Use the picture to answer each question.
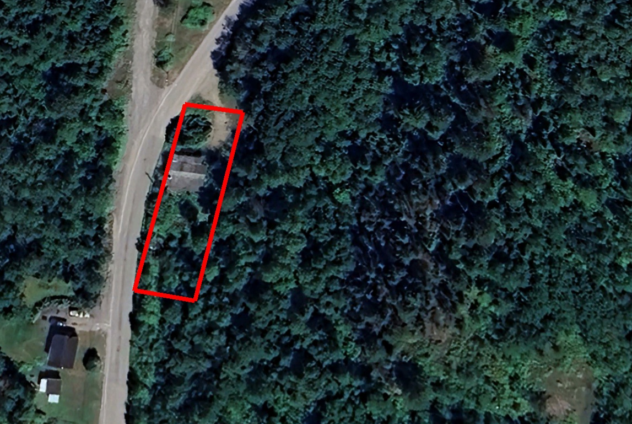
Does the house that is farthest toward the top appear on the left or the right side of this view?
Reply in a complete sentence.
The house that is farthest toward the top appears in the left half of the scene.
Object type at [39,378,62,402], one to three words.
shed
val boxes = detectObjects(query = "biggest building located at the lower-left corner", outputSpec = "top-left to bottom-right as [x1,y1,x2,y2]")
[49,330,78,370]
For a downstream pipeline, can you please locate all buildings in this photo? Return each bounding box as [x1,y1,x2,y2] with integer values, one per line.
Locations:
[39,378,62,402]
[49,330,78,370]
[168,153,207,192]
